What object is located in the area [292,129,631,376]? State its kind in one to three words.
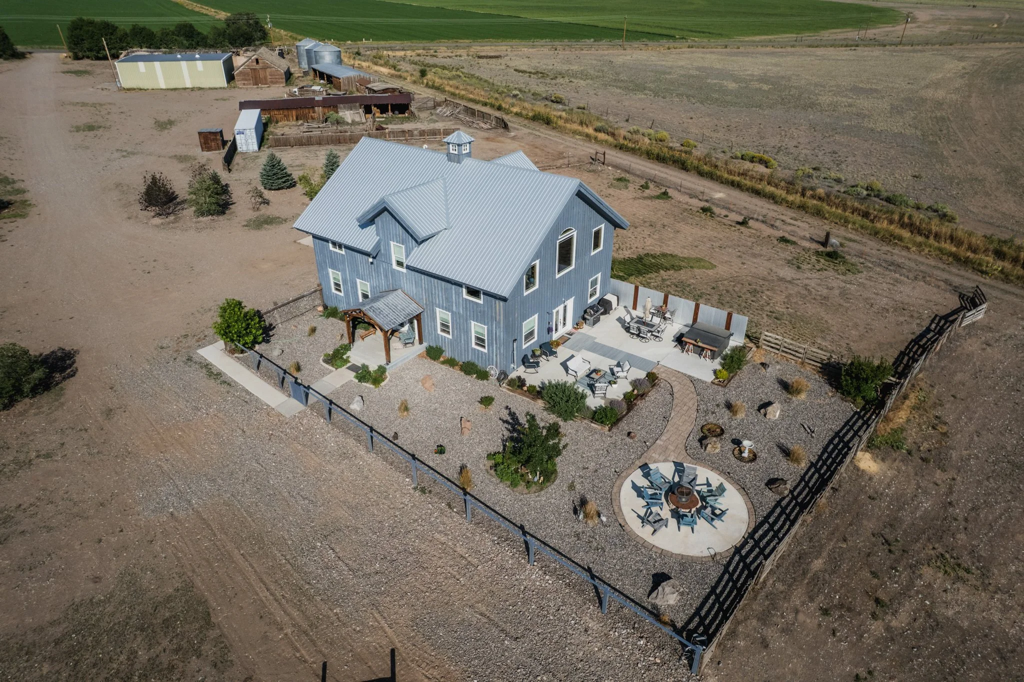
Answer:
house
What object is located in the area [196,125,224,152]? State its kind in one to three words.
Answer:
shed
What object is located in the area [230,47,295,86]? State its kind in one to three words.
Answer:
barn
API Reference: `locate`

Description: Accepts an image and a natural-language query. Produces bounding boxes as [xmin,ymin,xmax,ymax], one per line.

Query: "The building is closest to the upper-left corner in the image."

[114,52,237,87]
